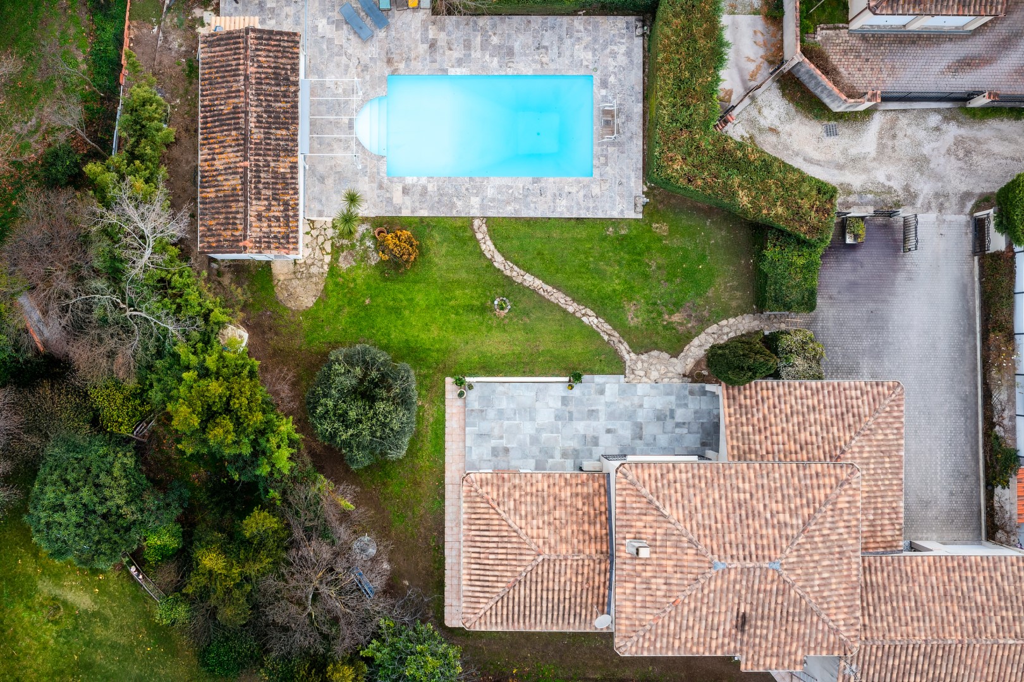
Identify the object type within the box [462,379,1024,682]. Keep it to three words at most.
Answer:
house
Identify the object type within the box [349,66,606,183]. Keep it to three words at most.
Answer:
swimming pool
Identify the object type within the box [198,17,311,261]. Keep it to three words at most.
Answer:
building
